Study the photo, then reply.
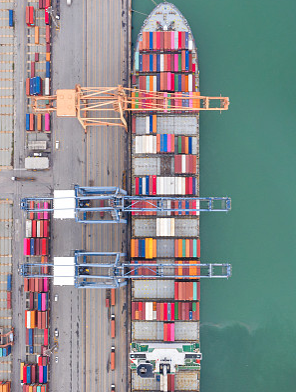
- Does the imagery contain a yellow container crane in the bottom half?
No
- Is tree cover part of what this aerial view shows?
No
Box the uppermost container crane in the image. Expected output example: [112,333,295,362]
[19,87,234,136]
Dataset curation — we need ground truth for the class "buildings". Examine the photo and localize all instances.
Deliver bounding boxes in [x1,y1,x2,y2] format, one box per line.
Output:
[25,157,49,169]
[27,141,46,149]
